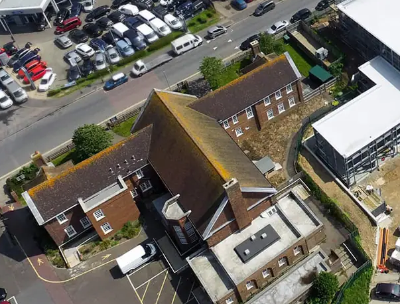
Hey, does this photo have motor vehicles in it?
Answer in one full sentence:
Yes, there is a motor vehicle in the image.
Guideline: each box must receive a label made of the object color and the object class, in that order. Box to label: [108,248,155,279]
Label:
white van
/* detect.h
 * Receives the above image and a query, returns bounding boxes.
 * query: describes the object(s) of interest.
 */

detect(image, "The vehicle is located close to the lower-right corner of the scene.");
[372,283,400,302]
